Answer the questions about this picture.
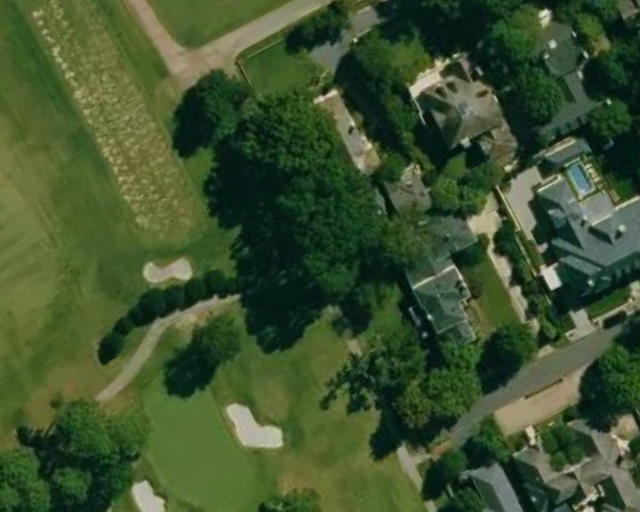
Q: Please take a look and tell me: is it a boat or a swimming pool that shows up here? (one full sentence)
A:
I can see a swimming pool in this picture.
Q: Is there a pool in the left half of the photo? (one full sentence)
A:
No, there's no pool to be seen in the left half of the photo.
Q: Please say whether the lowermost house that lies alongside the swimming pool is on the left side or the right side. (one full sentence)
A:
It is on the right.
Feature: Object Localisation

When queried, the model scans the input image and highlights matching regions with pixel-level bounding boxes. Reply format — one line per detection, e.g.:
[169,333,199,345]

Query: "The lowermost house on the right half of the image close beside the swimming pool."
[538,182,640,297]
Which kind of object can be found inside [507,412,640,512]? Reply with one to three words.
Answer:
house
